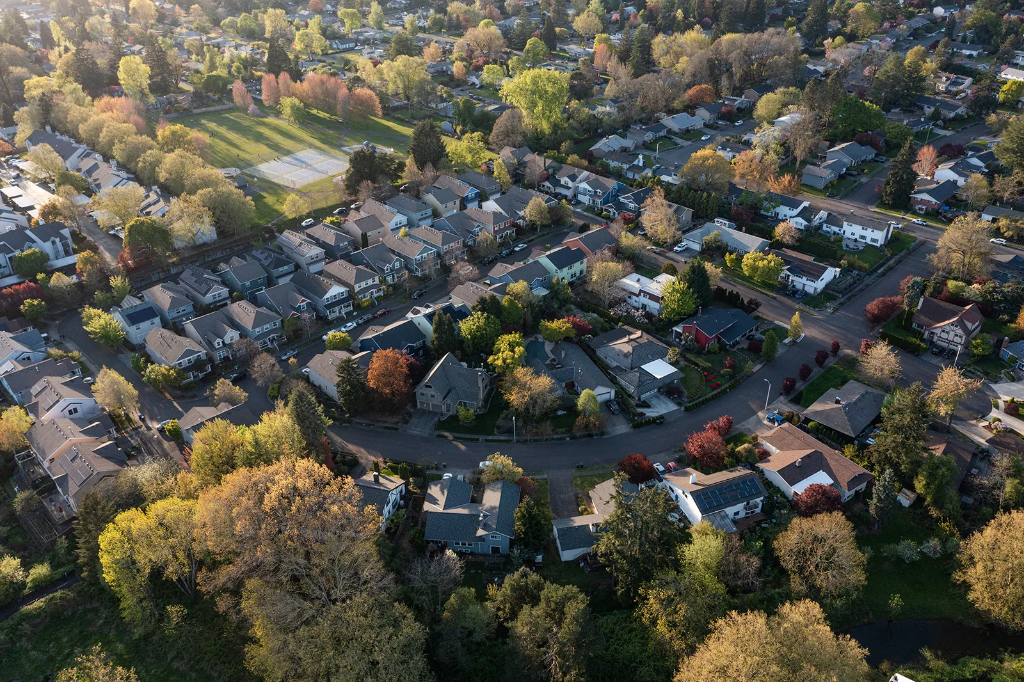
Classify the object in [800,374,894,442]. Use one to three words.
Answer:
house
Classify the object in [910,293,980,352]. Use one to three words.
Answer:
house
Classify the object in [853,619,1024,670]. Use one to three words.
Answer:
pond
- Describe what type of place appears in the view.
residential area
